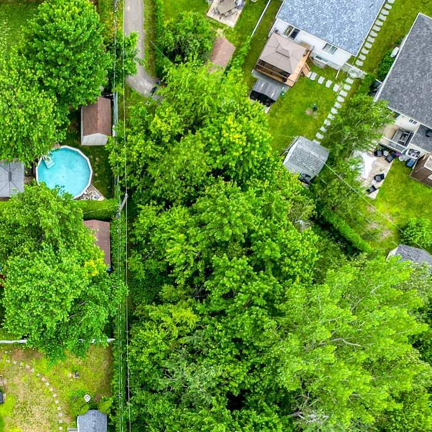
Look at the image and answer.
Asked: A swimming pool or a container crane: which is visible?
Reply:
swimming pool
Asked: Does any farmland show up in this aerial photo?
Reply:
No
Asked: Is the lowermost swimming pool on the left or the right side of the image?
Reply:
left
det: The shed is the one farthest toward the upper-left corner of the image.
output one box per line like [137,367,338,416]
[80,95,111,143]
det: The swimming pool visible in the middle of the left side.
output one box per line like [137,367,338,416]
[36,143,92,202]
